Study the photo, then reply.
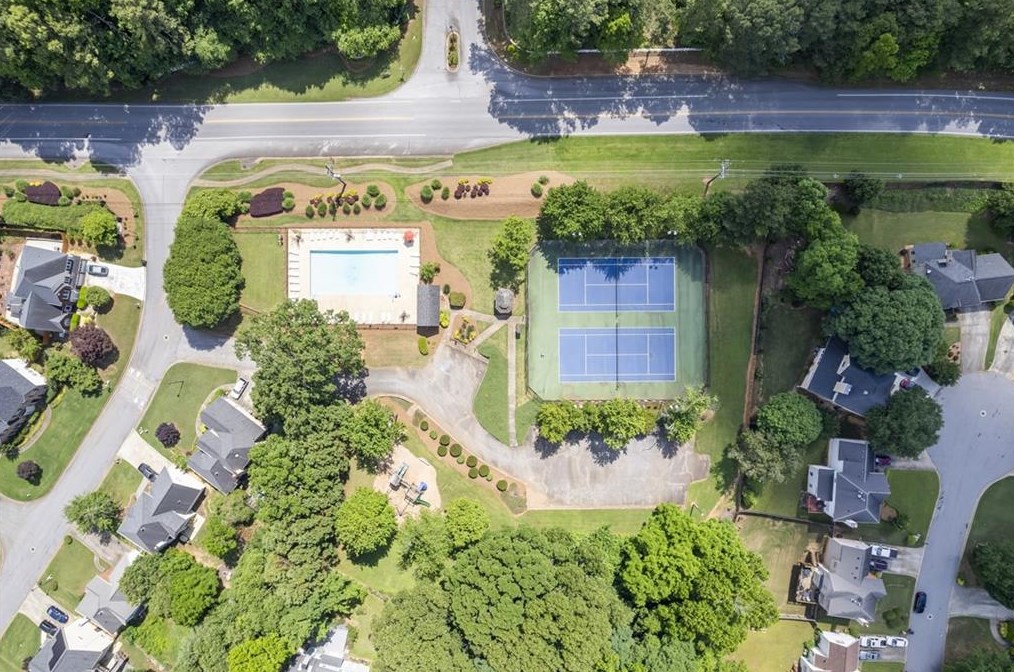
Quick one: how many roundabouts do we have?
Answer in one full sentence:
No roundabouts are visible.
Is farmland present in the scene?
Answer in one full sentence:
No, the scene doesn't show any farmland.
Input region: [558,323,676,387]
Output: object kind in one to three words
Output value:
tennis court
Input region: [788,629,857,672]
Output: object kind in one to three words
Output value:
house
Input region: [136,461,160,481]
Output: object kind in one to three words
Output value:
car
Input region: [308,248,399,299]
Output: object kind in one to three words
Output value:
swimming pool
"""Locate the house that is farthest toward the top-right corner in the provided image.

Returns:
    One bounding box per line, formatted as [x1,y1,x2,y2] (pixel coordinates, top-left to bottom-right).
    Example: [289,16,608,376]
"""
[902,240,1014,311]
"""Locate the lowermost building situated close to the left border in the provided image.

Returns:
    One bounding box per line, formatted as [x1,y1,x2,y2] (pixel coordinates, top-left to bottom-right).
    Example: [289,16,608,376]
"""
[30,617,115,672]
